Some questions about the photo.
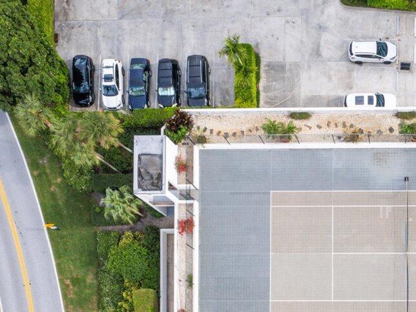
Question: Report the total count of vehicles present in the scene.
7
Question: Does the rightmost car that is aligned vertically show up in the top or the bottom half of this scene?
top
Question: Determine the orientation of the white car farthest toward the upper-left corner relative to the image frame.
vertically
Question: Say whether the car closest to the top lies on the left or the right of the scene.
right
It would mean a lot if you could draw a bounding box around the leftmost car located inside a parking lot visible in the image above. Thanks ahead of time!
[67,53,93,107]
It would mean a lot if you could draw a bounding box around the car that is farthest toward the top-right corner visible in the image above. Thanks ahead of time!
[348,37,397,62]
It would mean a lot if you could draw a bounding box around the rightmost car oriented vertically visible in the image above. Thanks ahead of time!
[183,52,209,108]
